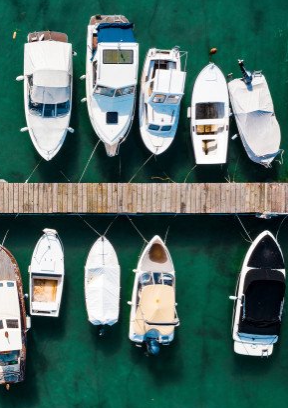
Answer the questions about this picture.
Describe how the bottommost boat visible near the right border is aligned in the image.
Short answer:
up and down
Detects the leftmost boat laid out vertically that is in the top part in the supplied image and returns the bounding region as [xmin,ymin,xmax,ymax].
[23,30,73,160]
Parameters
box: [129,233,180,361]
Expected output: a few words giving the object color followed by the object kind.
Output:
white boat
